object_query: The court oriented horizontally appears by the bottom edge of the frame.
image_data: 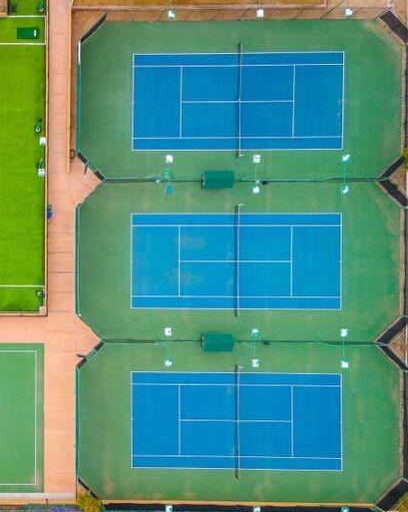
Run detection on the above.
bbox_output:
[80,344,402,502]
